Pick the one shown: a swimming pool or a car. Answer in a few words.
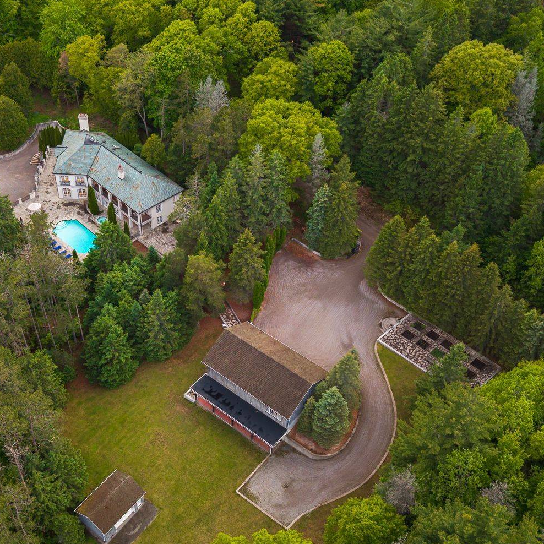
swimming pool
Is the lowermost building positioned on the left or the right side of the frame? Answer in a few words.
left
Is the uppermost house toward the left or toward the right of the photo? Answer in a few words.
left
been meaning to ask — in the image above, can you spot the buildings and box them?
[53,111,184,238]
[74,470,146,543]
[187,323,331,455]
